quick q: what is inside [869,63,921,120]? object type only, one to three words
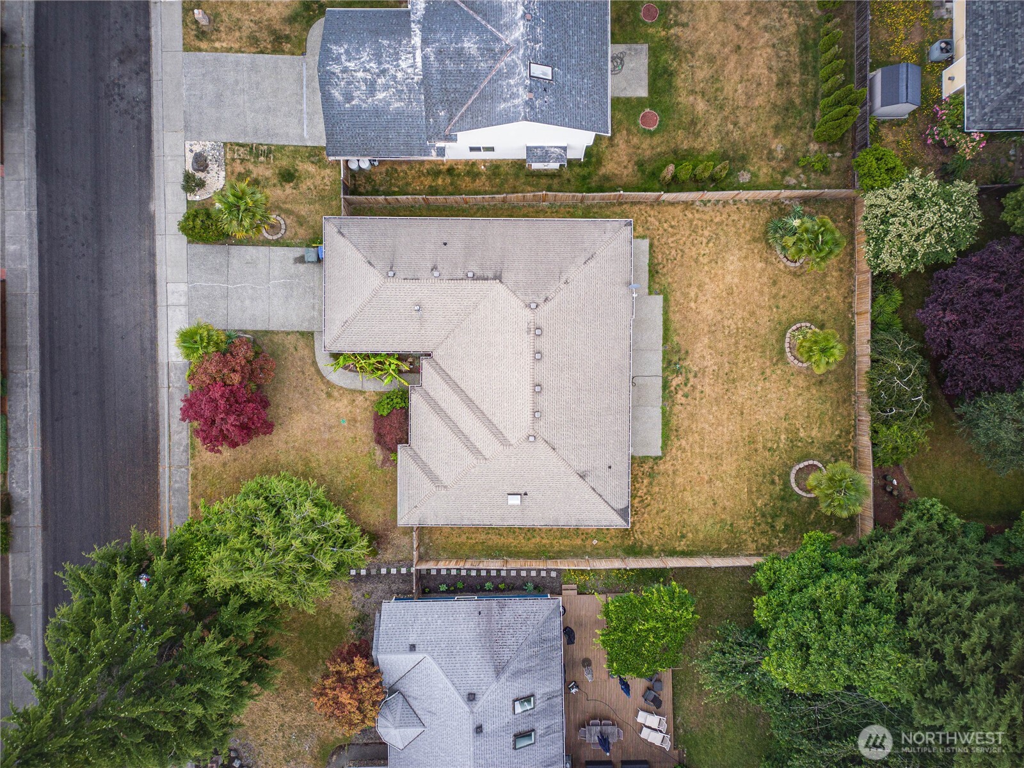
shed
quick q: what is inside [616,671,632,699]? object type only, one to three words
umbrella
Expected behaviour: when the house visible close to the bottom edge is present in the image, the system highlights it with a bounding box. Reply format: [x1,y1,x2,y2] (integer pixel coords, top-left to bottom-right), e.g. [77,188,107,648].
[373,595,564,768]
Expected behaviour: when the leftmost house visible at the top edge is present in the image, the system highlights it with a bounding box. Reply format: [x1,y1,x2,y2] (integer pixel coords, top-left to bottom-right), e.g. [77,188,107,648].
[317,0,610,168]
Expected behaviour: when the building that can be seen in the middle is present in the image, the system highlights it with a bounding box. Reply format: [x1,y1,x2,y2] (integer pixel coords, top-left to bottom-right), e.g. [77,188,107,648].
[324,217,634,528]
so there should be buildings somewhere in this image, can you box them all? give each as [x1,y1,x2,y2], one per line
[373,595,564,768]
[324,217,634,528]
[942,0,1024,133]
[869,63,921,120]
[317,0,610,168]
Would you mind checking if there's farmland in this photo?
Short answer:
No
